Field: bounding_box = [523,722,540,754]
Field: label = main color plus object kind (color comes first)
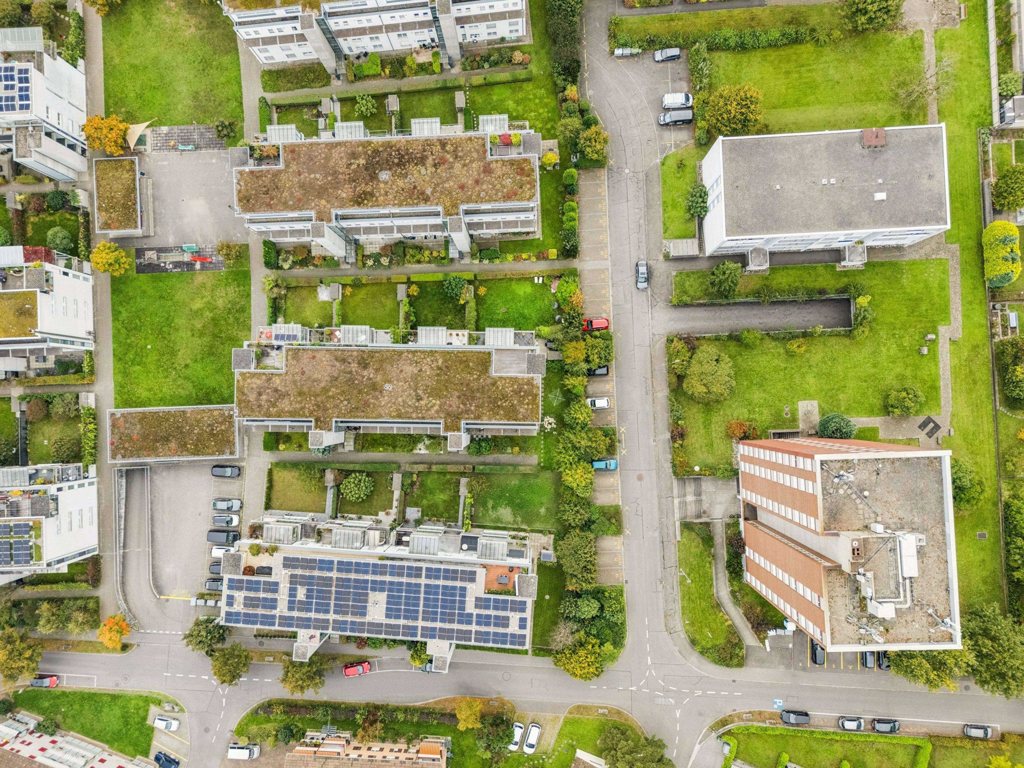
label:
white car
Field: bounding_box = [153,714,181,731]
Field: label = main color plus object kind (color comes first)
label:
white car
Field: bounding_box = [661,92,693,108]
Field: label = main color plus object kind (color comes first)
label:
white vehicle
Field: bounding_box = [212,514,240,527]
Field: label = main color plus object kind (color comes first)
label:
white vehicle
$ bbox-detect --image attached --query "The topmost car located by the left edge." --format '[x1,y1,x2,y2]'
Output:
[30,674,61,690]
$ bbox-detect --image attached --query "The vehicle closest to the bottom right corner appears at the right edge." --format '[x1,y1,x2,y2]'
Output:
[963,723,992,739]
